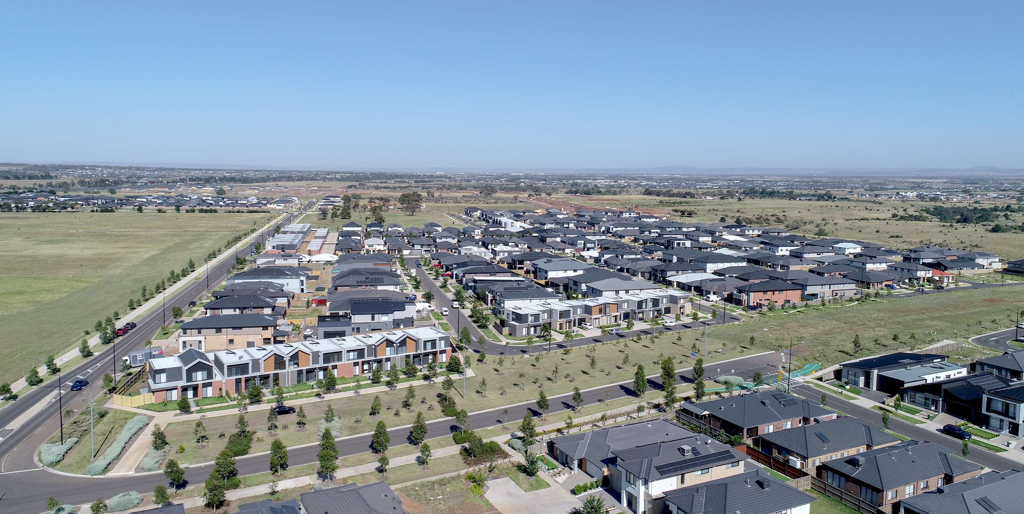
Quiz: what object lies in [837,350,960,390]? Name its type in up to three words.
house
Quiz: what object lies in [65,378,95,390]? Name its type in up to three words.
vehicle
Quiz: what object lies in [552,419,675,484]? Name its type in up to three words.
house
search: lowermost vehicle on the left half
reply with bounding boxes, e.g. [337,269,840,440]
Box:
[270,403,298,415]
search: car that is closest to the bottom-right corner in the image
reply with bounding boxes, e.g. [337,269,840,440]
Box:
[940,424,976,440]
